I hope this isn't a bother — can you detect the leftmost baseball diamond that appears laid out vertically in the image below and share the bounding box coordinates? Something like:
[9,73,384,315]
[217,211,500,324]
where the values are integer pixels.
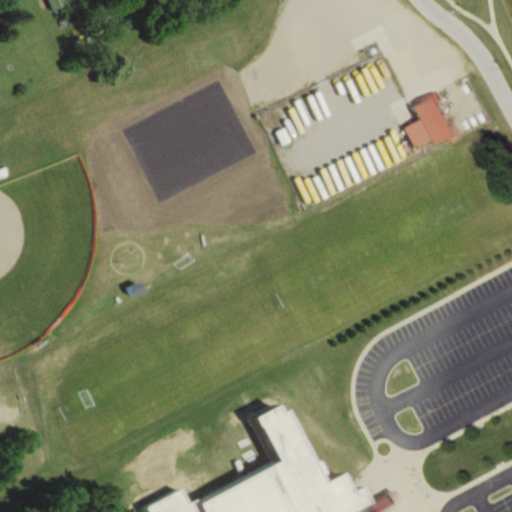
[0,156,94,358]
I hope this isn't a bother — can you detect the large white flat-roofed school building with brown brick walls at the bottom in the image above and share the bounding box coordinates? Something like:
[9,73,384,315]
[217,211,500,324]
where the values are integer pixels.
[148,403,376,512]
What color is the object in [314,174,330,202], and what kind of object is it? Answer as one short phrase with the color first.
white vehicle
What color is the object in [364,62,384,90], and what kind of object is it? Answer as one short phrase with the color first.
yellow vehicle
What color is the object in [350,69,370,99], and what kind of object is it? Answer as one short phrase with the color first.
yellow vehicle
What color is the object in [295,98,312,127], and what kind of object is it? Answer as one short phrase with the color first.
white vehicle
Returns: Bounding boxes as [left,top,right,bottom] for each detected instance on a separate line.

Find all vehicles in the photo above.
[368,144,386,172]
[390,130,401,145]
[321,168,338,196]
[376,140,394,168]
[294,176,312,206]
[295,98,312,127]
[346,156,362,184]
[284,118,298,139]
[468,114,478,128]
[460,79,470,94]
[352,152,370,181]
[461,118,470,131]
[308,94,324,122]
[288,108,304,136]
[314,174,330,202]
[316,90,331,118]
[350,69,370,99]
[342,74,361,106]
[359,64,378,96]
[441,93,450,104]
[331,78,346,98]
[304,177,322,205]
[360,148,378,176]
[364,62,384,90]
[398,144,408,160]
[338,159,354,188]
[374,58,389,80]
[329,164,346,193]
[476,110,486,124]
[385,136,402,164]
